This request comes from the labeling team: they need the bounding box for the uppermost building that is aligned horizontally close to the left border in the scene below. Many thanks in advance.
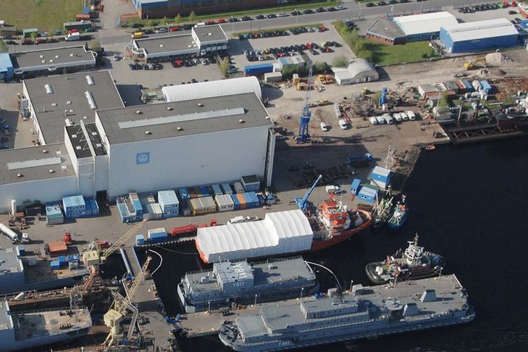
[10,45,96,80]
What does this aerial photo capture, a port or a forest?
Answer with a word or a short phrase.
port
